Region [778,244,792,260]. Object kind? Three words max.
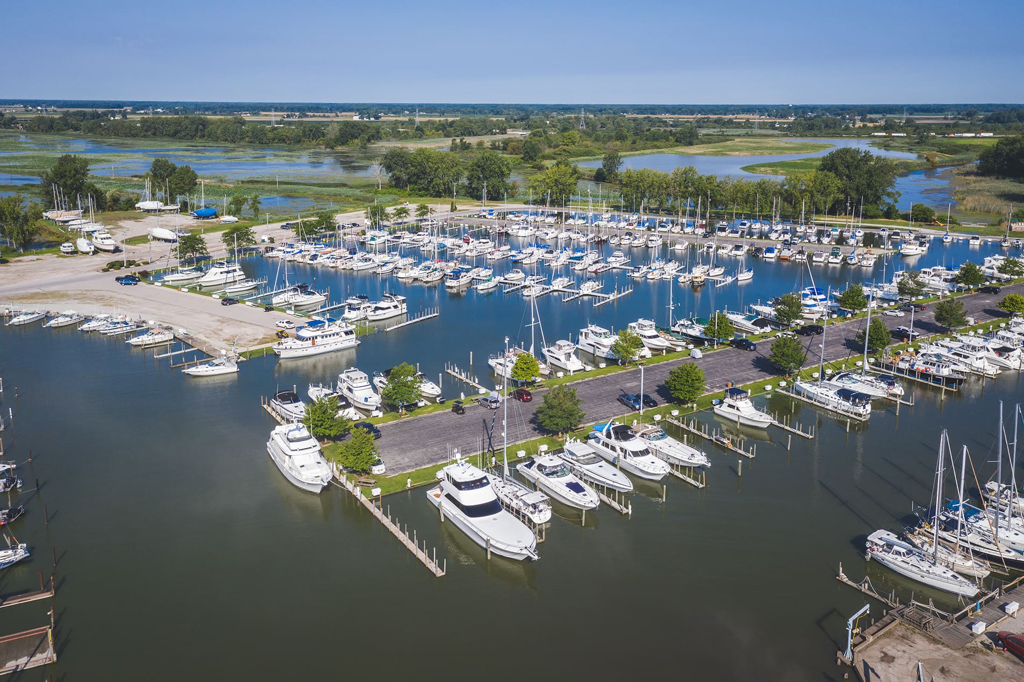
boat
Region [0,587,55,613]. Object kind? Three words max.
pier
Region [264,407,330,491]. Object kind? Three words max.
boat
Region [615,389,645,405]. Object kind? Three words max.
vehicle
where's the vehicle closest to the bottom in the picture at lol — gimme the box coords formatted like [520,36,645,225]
[991,629,1024,652]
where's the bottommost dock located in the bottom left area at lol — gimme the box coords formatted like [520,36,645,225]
[0,626,56,681]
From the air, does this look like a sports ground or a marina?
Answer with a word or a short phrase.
marina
